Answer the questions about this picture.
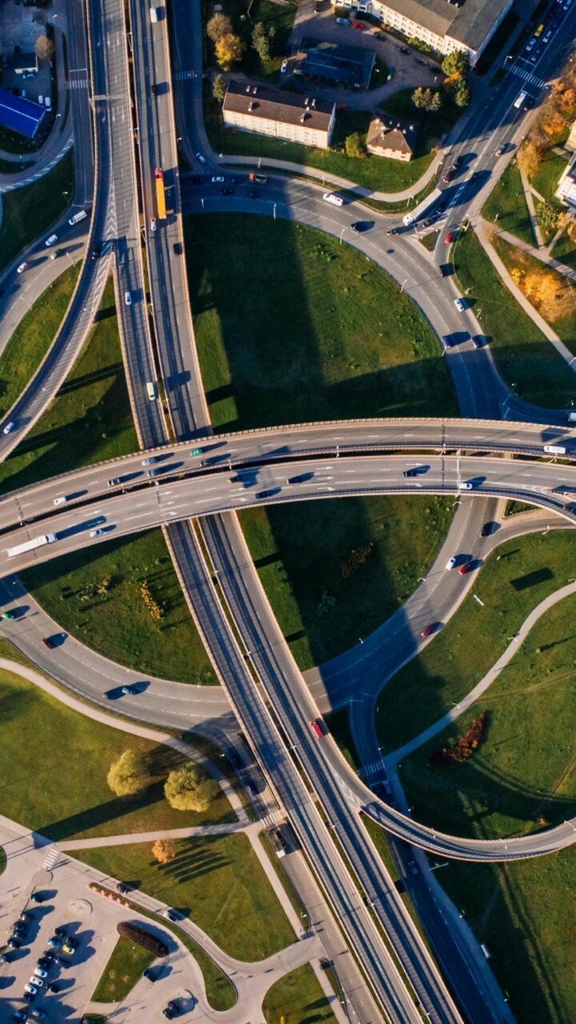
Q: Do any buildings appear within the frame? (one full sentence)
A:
Yes, the picture does show a building.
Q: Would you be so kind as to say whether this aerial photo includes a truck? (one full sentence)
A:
Yes, the picture does show a truck.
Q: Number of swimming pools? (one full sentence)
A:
The photo contains no swimming pools.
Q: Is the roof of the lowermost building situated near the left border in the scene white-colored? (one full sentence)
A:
No, from above the roof of the lowermost building situated near the left border looks blue.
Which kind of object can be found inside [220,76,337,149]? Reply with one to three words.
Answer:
building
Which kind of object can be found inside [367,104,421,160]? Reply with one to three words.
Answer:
house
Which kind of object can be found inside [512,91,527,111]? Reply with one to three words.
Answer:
vehicle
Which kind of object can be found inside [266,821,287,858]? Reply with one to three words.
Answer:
truck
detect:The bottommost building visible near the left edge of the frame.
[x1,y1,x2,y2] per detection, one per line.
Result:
[0,80,43,137]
